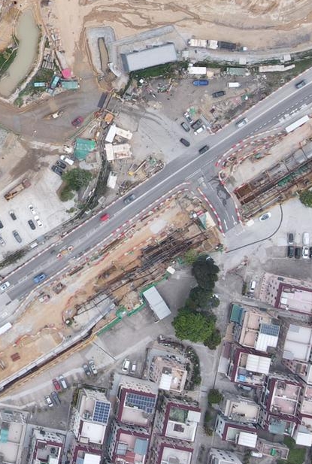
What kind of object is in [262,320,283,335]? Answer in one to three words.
solar panel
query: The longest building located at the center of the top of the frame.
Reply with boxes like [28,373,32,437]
[118,43,177,72]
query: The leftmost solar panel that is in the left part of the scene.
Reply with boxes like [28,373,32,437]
[93,398,114,429]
